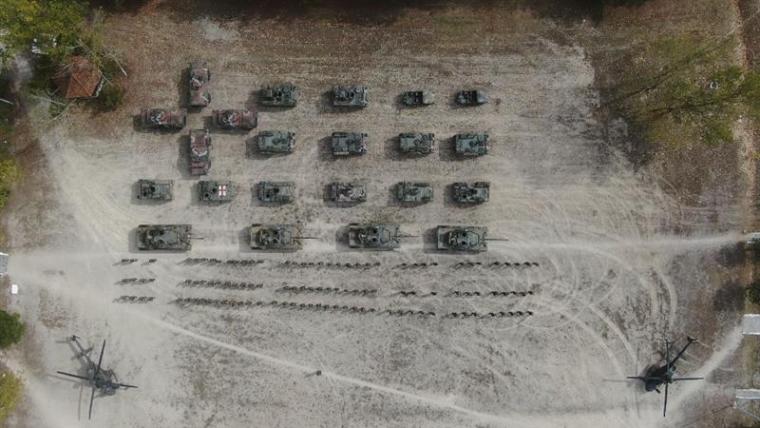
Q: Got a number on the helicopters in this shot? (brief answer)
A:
2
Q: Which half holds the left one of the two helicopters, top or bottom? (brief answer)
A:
bottom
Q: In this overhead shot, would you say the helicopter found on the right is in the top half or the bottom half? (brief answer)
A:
bottom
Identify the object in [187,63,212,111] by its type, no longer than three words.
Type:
truck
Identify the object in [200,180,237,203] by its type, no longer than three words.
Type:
vehicle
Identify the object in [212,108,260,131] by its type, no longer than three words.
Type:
truck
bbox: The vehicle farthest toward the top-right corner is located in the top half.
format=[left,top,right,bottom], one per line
[454,91,488,105]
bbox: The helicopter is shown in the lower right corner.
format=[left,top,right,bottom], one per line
[626,335,705,418]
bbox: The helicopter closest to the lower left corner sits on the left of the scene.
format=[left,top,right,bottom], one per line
[59,335,137,418]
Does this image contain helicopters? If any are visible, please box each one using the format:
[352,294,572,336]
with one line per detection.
[59,335,137,418]
[626,335,705,418]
